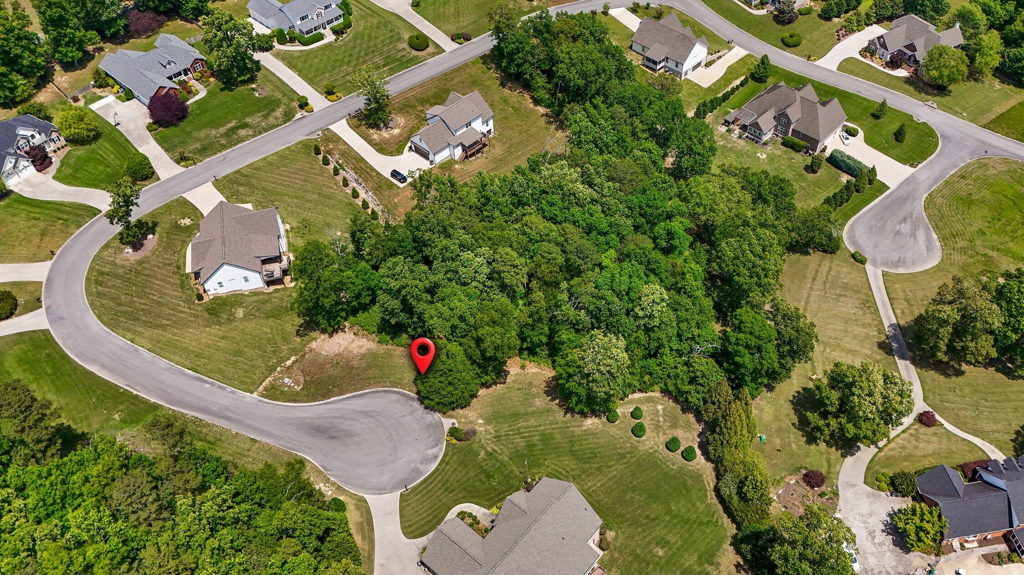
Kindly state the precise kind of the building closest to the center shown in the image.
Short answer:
home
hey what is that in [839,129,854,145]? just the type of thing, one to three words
car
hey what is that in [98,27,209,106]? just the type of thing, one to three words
house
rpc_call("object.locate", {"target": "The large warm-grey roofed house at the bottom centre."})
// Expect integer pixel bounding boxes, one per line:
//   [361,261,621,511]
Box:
[417,476,613,575]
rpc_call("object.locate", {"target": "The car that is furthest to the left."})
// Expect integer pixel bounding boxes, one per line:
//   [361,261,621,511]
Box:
[389,166,408,183]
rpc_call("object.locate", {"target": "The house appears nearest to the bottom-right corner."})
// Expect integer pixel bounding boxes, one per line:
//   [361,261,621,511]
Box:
[914,451,1024,558]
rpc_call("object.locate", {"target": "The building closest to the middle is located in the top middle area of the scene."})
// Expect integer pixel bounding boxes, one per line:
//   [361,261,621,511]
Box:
[408,89,495,164]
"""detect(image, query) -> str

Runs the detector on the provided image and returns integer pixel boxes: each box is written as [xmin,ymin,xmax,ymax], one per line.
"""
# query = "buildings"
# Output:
[914,451,1024,558]
[187,199,293,297]
[630,12,708,82]
[864,14,965,75]
[712,79,847,152]
[98,27,209,106]
[417,476,613,575]
[247,0,344,37]
[408,89,495,164]
[0,112,68,185]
